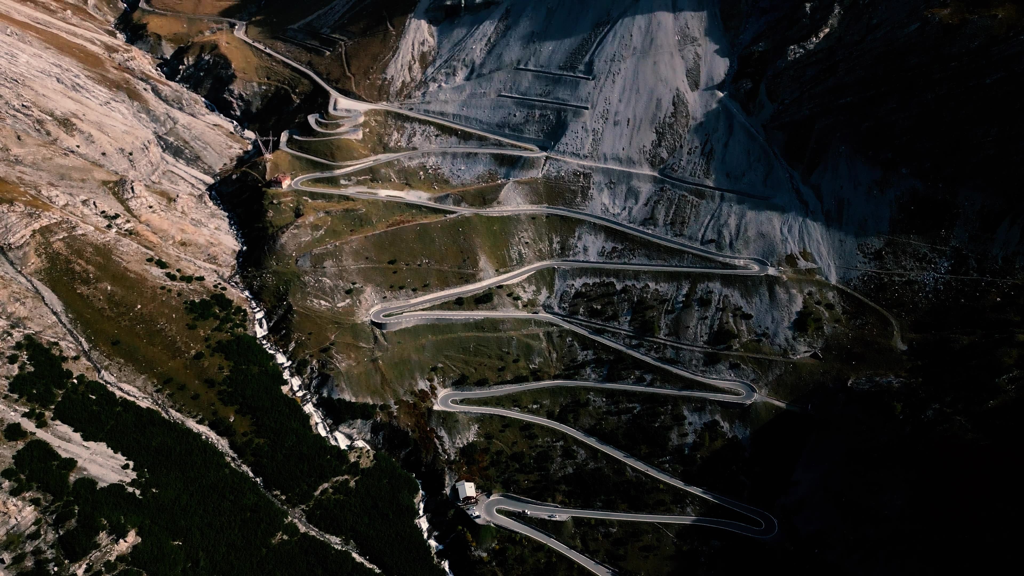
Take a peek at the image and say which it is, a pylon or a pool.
pylon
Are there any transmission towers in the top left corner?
Yes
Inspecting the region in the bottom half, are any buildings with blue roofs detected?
No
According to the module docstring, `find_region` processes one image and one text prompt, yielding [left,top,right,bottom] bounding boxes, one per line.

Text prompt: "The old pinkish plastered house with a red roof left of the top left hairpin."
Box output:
[267,169,294,188]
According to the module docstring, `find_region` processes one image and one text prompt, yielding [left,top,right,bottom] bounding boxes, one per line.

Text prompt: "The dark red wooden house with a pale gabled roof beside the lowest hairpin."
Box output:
[452,479,475,511]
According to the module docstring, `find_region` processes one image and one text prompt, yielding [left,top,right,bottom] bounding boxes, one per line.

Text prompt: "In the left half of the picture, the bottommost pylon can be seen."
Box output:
[249,127,275,158]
